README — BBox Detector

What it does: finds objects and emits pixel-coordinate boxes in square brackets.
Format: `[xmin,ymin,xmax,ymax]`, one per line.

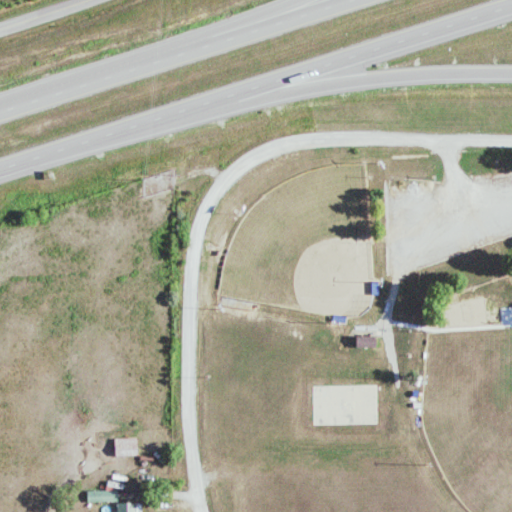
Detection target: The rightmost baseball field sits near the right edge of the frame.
[420,296,512,512]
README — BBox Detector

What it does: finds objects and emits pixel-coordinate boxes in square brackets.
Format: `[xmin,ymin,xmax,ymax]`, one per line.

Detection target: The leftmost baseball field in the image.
[220,164,374,317]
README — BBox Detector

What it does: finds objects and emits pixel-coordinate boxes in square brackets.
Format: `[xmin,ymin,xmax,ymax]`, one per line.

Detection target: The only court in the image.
[313,385,378,426]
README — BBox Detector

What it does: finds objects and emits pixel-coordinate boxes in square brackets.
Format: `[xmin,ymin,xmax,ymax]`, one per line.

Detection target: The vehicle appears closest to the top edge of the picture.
[290,70,318,83]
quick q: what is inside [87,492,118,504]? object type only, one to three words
house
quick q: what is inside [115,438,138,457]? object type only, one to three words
barn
